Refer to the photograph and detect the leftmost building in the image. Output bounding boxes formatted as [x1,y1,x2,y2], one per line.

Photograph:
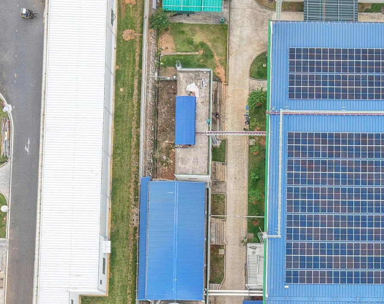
[31,0,120,304]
